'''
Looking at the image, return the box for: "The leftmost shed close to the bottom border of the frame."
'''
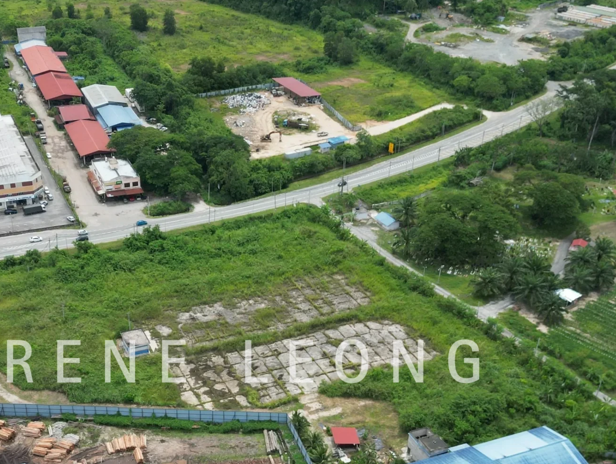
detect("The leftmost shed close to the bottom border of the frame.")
[332,425,359,453]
